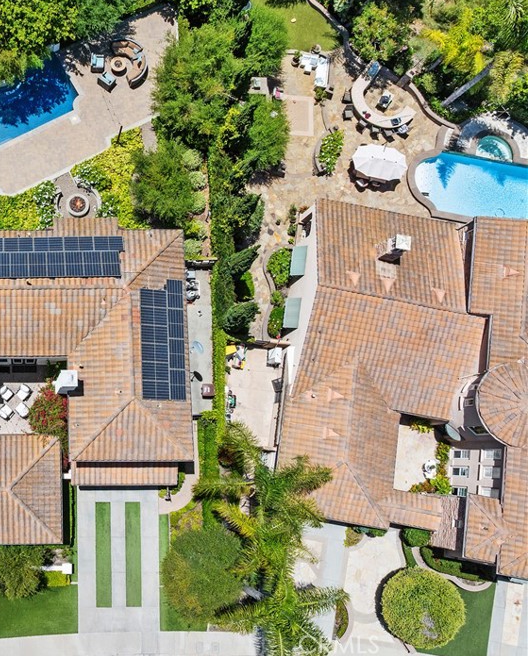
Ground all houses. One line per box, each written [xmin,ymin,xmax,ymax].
[265,198,528,579]
[0,218,197,546]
